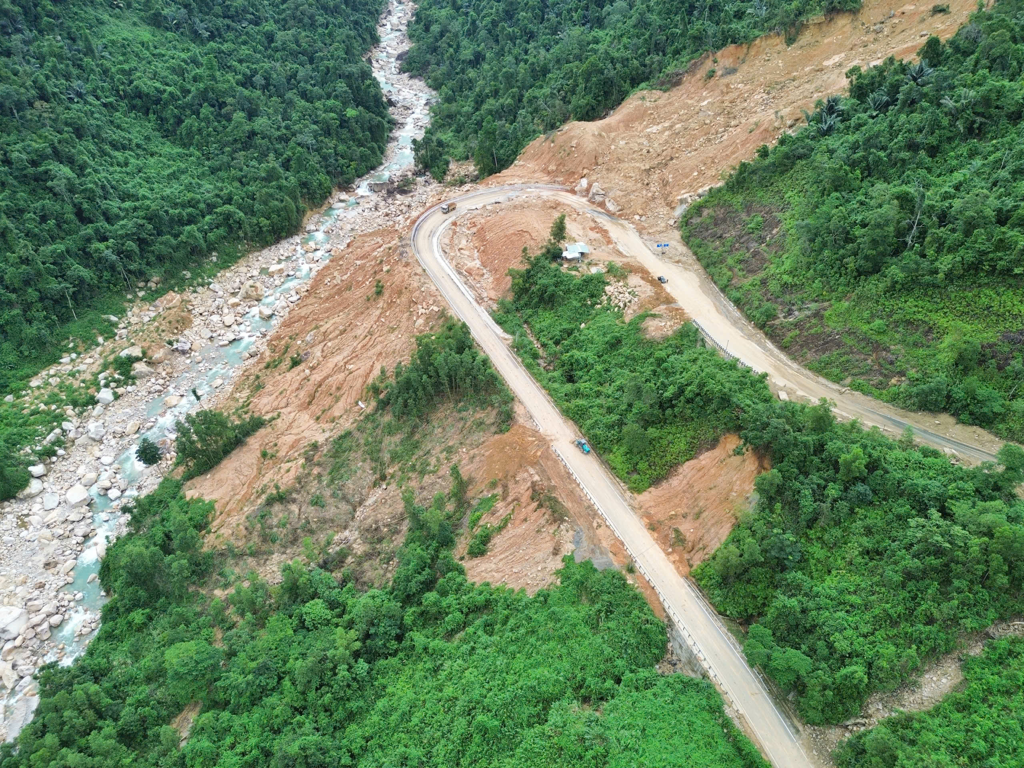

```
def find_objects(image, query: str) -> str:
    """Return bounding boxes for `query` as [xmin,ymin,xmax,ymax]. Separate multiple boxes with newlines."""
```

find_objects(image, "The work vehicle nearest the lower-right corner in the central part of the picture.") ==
[570,437,594,456]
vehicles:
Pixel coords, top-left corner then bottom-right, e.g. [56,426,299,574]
[659,275,667,284]
[570,437,594,456]
[441,204,457,215]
